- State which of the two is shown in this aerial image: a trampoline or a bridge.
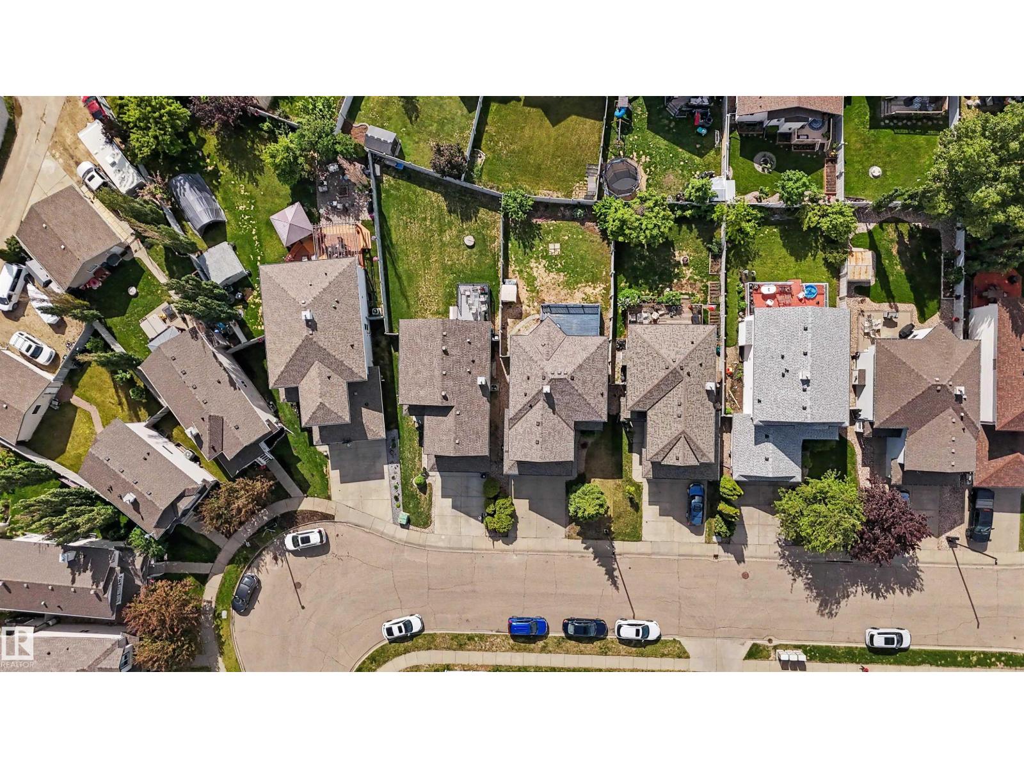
trampoline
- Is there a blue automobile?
Yes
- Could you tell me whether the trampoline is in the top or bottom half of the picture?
top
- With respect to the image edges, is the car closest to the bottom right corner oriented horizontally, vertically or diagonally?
horizontally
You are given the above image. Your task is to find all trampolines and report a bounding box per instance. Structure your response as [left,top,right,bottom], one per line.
[604,163,640,197]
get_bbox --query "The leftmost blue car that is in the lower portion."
[508,615,548,637]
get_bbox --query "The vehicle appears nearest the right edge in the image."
[966,487,993,540]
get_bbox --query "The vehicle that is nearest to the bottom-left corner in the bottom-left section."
[234,570,262,613]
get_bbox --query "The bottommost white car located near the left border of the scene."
[9,333,58,364]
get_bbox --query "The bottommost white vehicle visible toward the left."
[380,613,425,641]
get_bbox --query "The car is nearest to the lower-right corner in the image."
[864,626,910,649]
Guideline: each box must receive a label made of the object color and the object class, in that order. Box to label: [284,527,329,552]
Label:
white car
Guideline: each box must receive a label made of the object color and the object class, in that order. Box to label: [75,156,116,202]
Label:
white car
